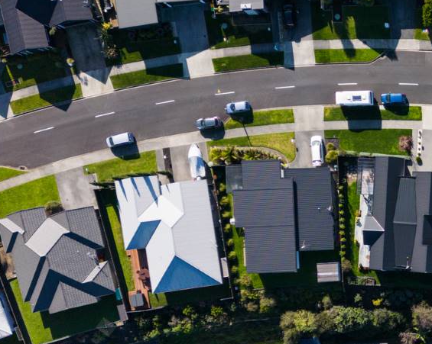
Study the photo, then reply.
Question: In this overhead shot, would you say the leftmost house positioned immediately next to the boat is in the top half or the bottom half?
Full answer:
The leftmost house positioned immediately next to the boat is in the bottom half of the image.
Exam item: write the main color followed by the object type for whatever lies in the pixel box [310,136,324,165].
white car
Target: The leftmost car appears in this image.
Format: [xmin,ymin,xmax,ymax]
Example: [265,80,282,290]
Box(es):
[108,134,135,148]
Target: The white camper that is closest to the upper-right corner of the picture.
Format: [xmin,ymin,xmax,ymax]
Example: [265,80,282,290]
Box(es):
[336,90,375,107]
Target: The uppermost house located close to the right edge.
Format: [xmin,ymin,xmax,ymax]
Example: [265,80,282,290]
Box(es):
[362,157,432,275]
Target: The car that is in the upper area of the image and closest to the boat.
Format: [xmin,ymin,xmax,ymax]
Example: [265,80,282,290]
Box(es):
[195,116,223,132]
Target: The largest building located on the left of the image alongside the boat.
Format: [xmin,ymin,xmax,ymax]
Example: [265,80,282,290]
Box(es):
[114,176,224,294]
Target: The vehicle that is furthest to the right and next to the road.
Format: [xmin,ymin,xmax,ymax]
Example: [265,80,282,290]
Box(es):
[379,91,407,106]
